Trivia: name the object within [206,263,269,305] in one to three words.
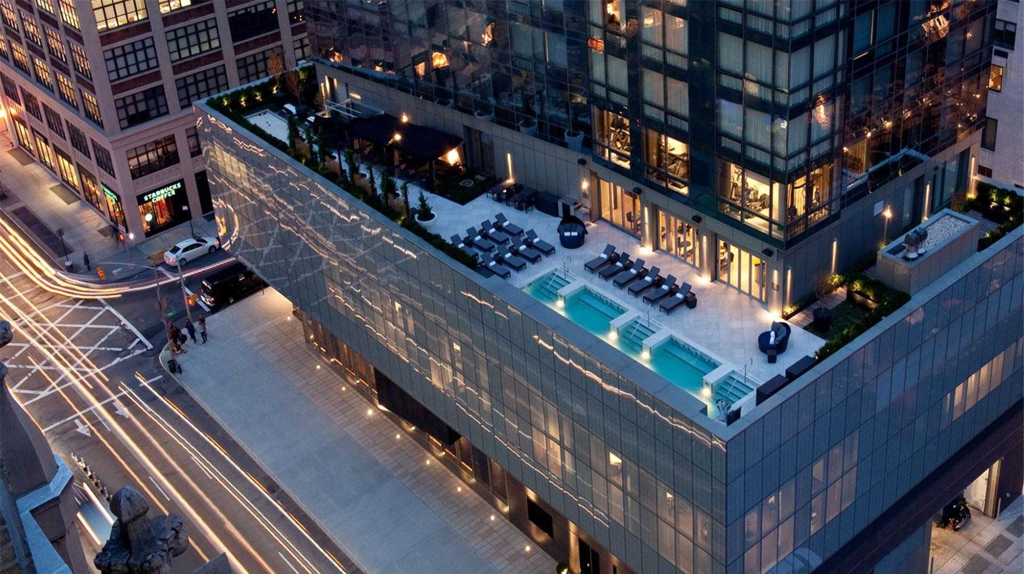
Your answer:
van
